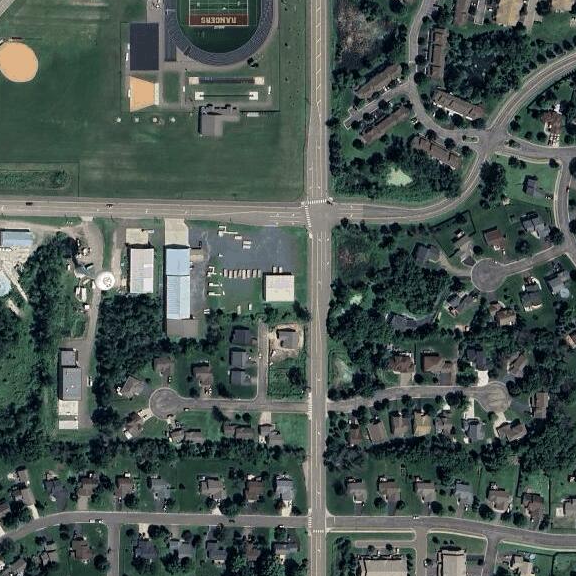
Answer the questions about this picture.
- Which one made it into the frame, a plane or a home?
home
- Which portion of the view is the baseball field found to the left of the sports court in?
top left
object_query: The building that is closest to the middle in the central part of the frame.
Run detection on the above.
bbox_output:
[263,272,295,301]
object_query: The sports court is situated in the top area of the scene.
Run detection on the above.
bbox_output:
[130,22,159,69]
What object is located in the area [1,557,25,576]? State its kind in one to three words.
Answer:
house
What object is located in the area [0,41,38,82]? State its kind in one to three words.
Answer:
baseball field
